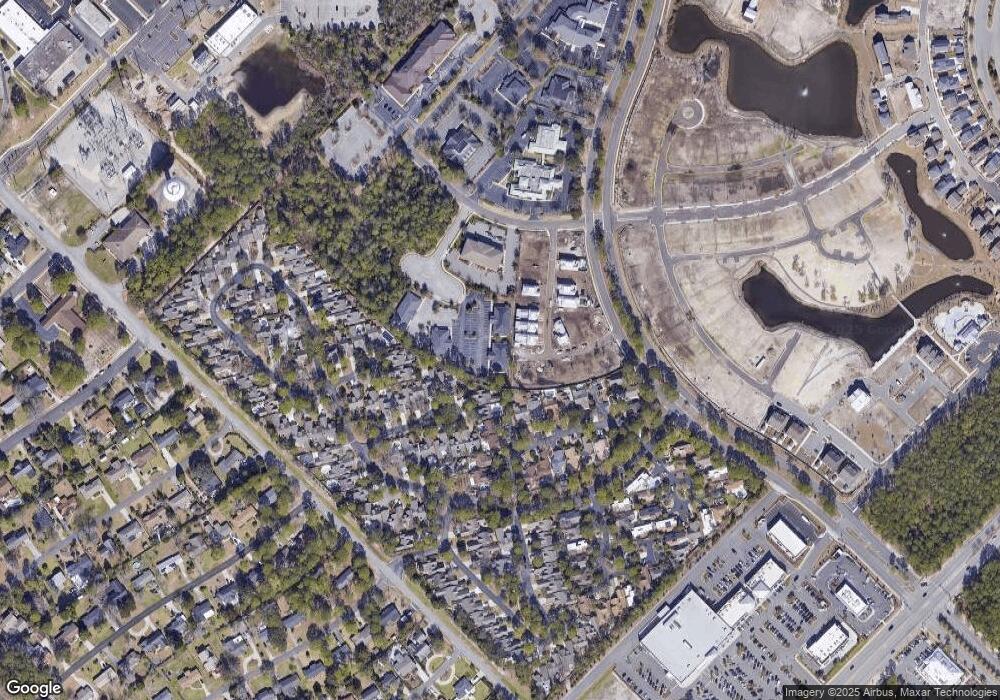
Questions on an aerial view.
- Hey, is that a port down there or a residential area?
residential area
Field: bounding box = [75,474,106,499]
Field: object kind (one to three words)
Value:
house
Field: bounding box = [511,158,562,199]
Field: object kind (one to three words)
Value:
building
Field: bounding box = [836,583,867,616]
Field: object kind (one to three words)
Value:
building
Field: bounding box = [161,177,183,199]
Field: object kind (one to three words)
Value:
water tower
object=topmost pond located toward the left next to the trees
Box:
[234,43,326,116]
